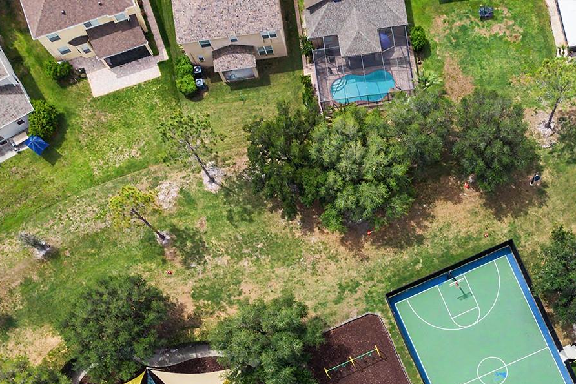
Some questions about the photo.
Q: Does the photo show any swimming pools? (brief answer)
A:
Yes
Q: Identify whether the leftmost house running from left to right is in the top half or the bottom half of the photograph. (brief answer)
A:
top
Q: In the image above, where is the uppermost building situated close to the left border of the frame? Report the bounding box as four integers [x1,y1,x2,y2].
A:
[20,0,157,72]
